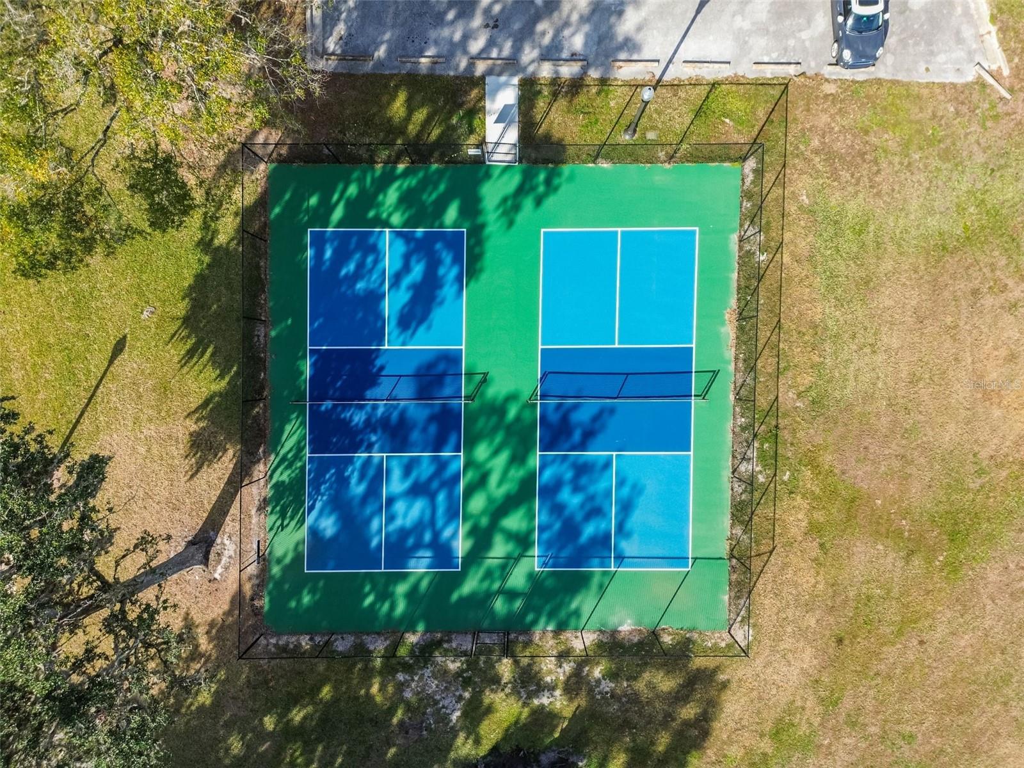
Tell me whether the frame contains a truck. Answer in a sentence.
No, no truck is visible in the scene.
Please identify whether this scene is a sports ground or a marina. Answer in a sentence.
The picture captures a sports ground.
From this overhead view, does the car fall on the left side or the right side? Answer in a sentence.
The car appears in the right half of the scene.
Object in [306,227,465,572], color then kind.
blue sports court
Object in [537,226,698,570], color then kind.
blue sports court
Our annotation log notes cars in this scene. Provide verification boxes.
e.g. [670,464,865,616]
[829,0,891,68]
